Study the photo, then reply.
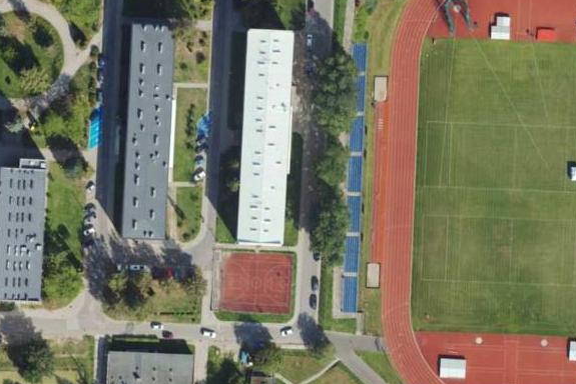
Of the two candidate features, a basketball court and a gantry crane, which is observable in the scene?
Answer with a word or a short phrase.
basketball court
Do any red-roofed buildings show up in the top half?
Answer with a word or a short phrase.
No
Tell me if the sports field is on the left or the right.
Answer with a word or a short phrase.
right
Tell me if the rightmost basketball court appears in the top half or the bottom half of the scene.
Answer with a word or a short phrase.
bottom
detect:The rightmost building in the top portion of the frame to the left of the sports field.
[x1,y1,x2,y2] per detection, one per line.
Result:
[236,29,294,244]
